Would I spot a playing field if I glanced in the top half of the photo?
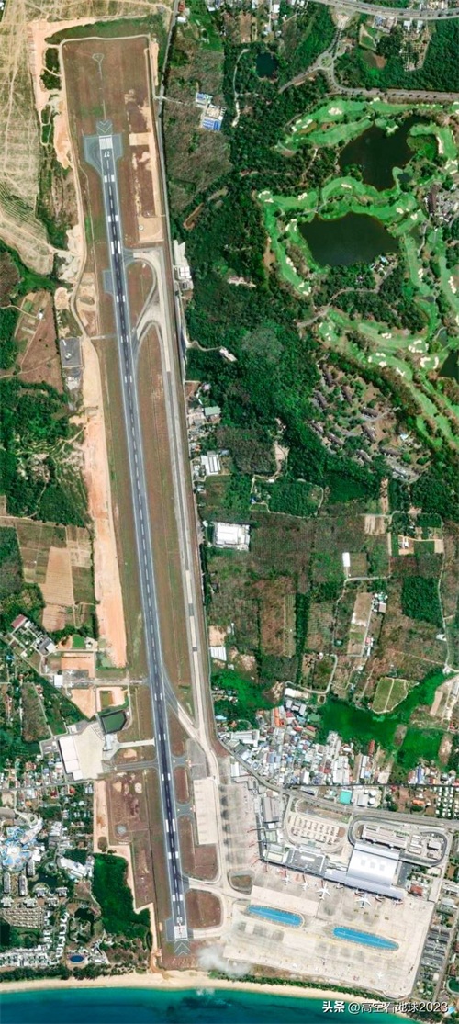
No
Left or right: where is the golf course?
right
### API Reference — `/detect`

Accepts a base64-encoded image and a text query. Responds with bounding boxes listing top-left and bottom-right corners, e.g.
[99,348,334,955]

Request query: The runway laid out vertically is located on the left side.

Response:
[99,123,189,952]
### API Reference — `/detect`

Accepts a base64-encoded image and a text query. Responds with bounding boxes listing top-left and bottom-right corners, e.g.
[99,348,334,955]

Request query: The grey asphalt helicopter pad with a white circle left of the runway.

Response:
[60,337,81,367]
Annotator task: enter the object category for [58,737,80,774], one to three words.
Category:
hangar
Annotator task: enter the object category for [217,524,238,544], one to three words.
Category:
building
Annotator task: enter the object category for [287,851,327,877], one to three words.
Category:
building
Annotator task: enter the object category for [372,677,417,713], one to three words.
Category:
sports field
